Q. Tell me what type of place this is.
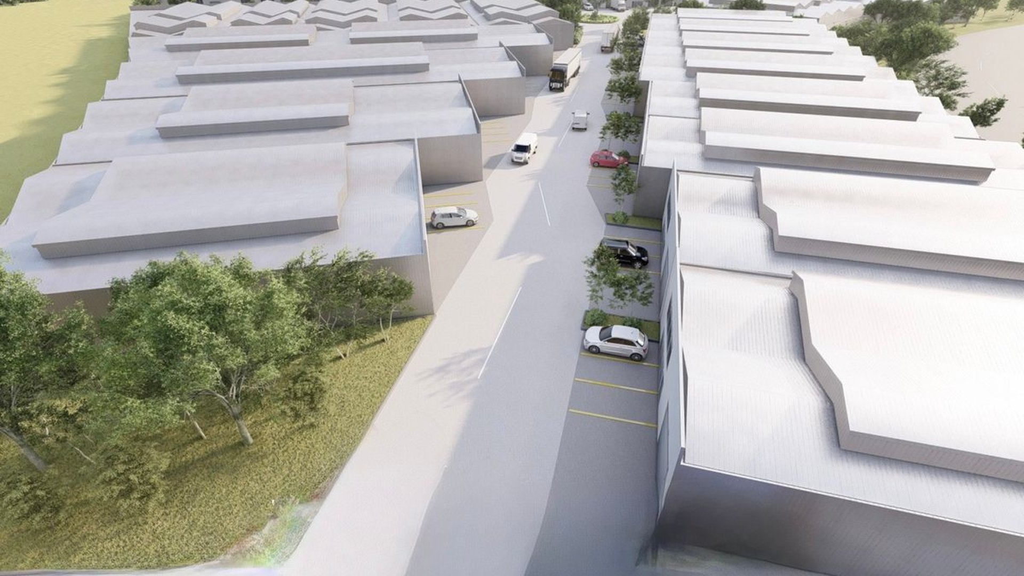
industrial area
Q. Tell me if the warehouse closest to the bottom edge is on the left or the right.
right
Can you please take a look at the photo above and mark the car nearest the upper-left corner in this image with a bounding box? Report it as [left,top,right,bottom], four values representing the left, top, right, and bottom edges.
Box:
[433,206,475,228]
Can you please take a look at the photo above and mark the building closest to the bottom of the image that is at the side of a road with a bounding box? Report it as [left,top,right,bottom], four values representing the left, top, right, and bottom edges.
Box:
[656,253,1024,576]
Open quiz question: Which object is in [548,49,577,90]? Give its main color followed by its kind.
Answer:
white truck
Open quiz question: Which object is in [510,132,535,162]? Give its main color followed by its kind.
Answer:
white vehicle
